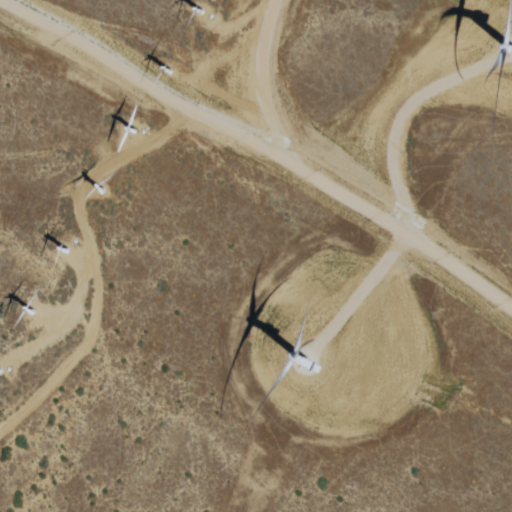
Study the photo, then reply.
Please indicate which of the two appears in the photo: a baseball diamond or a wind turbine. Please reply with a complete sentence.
I can see a wind turbine in this picture.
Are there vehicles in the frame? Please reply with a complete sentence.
No, no vehicle is visible in the view.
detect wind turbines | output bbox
[184,0,206,30]
[151,60,174,88]
[487,0,512,117]
[115,106,139,150]
[249,296,322,427]
[81,170,111,198]
[48,241,70,268]
[14,287,36,328]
